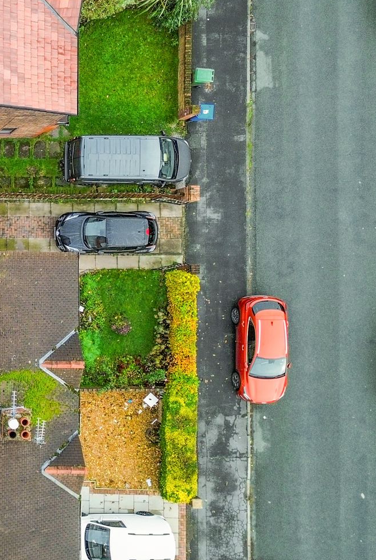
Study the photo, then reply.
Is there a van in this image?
Yes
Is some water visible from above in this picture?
No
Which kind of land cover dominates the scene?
paved ground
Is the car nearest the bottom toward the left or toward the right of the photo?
left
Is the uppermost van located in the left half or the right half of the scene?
left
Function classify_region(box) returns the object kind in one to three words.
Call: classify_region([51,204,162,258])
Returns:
car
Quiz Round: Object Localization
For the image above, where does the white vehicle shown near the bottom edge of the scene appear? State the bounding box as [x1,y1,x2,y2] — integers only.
[82,507,173,560]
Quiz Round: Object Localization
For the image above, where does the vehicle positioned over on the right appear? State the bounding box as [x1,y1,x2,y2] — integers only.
[229,295,295,403]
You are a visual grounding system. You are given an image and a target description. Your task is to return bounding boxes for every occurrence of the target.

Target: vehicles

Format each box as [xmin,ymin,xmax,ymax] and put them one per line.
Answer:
[61,129,192,192]
[51,204,162,258]
[229,295,295,403]
[82,507,173,560]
